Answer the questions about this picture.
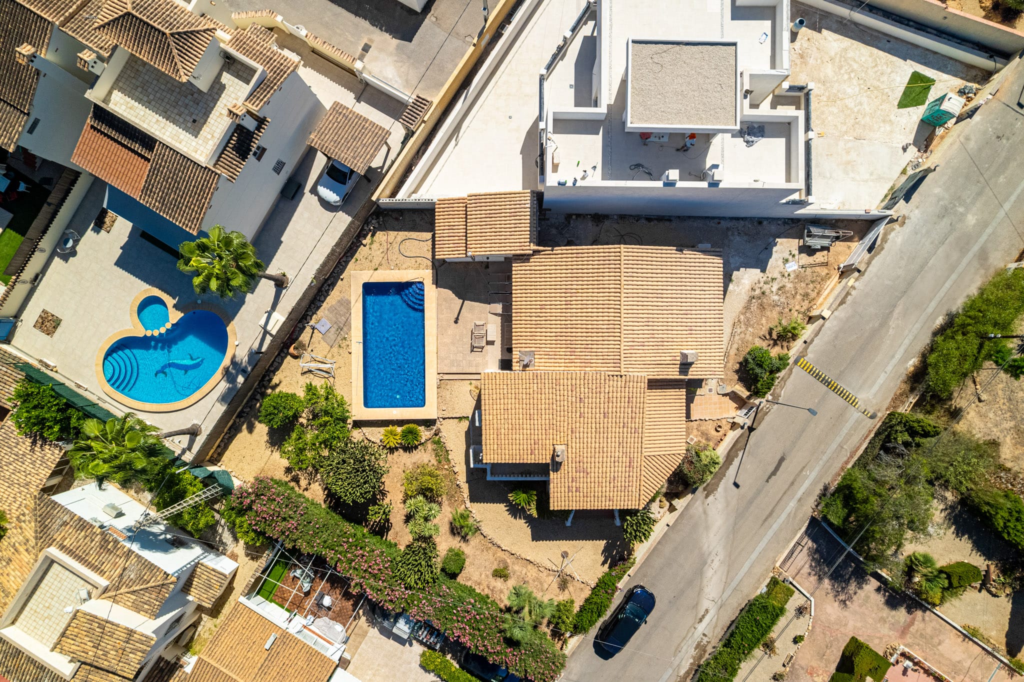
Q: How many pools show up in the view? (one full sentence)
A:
In total, there are 2 pools in the scene.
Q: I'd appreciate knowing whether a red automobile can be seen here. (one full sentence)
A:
No, I can't see a single red automobile in this photo.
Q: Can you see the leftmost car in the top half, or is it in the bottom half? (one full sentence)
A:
Seen from above, the leftmost car lies in the top half of the view.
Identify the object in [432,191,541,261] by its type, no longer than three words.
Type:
shed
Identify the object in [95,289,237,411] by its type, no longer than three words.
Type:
swimming pool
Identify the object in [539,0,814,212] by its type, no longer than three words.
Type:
building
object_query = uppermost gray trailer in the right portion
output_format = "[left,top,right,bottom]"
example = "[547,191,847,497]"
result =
[803,222,853,250]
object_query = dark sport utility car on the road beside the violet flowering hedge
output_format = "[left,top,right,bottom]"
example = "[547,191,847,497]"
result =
[597,583,655,661]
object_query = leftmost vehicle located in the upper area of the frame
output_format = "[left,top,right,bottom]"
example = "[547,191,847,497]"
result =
[316,158,359,206]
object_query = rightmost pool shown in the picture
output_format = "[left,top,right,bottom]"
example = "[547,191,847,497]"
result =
[352,272,437,419]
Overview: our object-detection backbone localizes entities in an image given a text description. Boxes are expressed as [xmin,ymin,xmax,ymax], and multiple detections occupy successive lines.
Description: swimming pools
[95,289,237,411]
[352,272,437,419]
